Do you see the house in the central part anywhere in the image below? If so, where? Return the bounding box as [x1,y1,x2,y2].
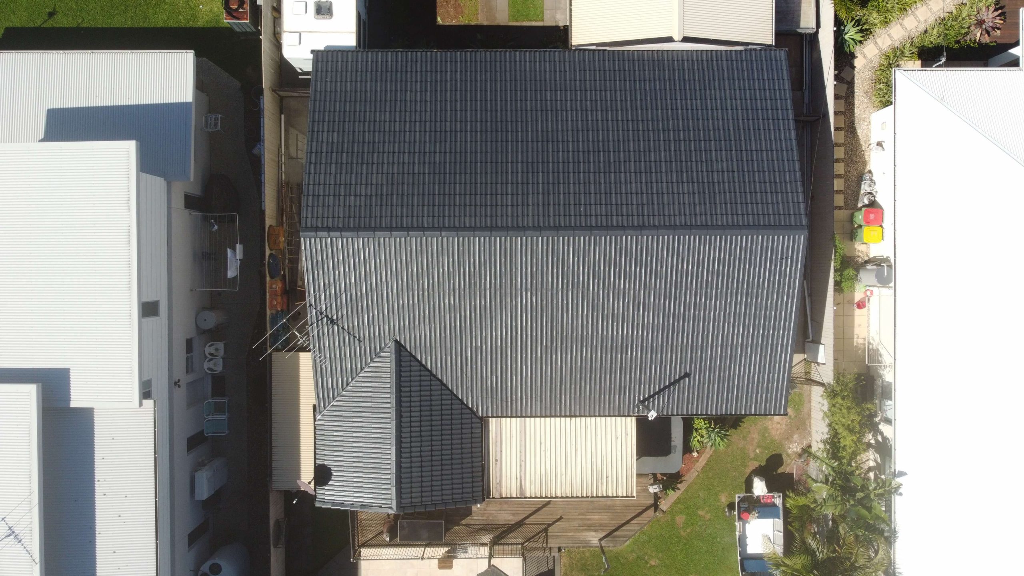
[298,46,807,514]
